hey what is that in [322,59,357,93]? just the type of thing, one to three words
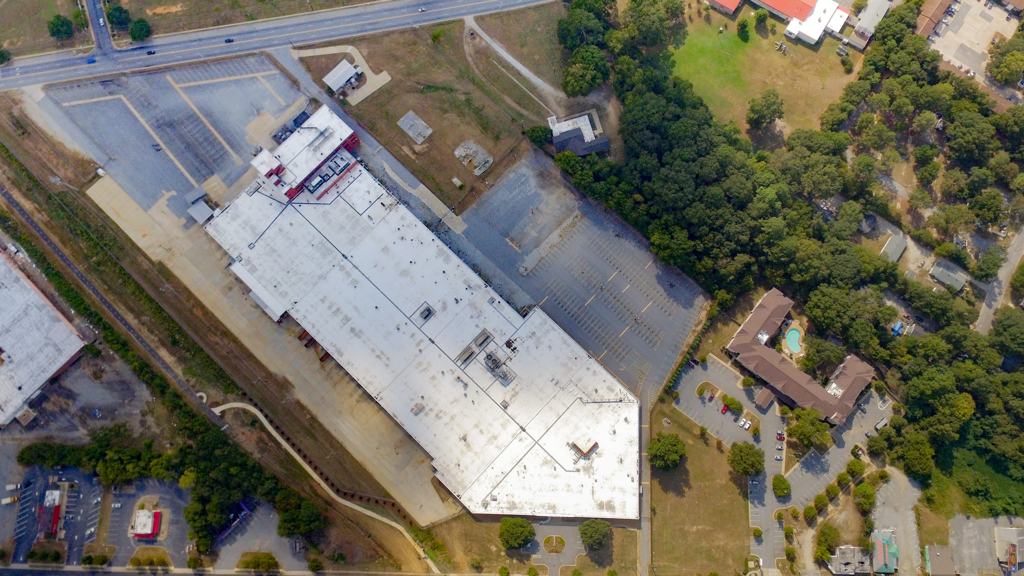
shed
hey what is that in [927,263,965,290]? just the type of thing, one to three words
house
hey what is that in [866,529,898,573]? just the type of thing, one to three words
building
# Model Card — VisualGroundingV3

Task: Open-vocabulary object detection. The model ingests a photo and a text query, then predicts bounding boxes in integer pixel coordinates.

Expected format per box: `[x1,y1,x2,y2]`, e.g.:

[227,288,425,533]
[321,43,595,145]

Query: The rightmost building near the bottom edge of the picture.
[988,526,1024,567]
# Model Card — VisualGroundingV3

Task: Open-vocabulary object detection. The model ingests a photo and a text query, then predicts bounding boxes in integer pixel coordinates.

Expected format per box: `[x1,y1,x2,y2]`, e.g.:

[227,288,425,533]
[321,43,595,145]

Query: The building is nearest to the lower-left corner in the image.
[36,489,66,541]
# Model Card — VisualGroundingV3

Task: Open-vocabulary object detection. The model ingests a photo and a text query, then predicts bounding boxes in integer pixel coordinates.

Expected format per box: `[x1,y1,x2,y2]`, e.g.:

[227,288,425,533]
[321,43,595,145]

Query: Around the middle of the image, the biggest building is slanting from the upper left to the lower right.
[203,163,639,520]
